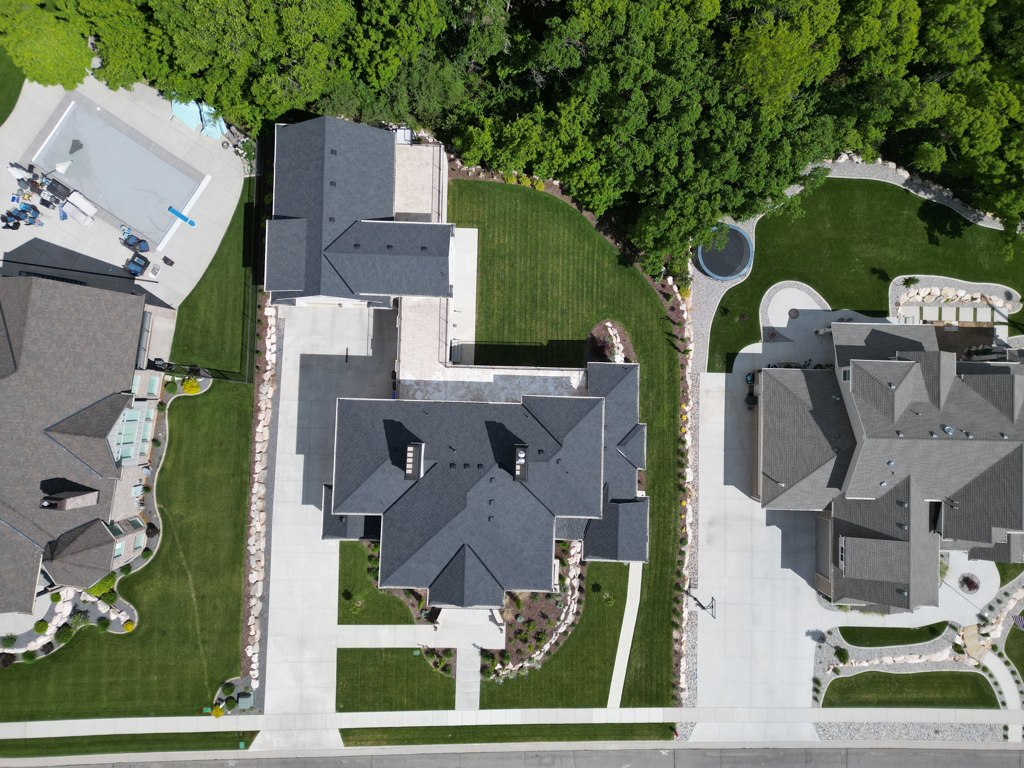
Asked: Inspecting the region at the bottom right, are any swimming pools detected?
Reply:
No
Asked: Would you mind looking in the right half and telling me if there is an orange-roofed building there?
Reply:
No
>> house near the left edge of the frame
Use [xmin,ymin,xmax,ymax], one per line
[0,273,177,615]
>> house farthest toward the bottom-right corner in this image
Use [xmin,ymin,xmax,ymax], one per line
[754,322,1024,616]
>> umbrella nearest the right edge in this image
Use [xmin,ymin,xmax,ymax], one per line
[48,159,72,180]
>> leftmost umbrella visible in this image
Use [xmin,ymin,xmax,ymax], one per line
[5,166,28,183]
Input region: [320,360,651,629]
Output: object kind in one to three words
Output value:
house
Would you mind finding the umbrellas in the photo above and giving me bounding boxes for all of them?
[48,159,72,180]
[5,166,28,183]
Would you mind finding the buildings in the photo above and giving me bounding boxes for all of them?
[320,360,651,629]
[754,322,1024,616]
[263,115,457,311]
[0,273,177,615]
